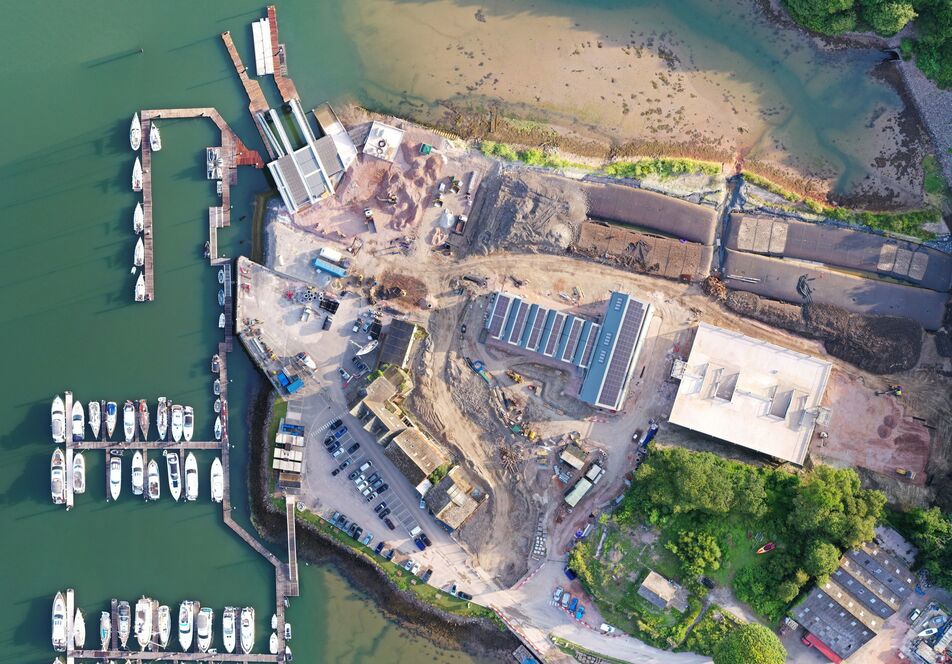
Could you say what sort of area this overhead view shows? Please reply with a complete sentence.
This looks like a port.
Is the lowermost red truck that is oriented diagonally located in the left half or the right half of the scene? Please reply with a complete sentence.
You can find the lowermost red truck that is oriented diagonally on the right side of the picture.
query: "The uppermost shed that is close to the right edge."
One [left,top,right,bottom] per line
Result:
[723,214,952,291]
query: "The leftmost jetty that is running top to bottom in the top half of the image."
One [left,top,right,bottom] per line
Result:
[141,118,154,301]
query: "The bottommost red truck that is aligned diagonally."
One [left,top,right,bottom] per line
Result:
[804,632,847,664]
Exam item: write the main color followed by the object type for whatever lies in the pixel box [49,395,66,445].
white boat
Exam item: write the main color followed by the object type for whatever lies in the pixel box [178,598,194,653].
white boat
